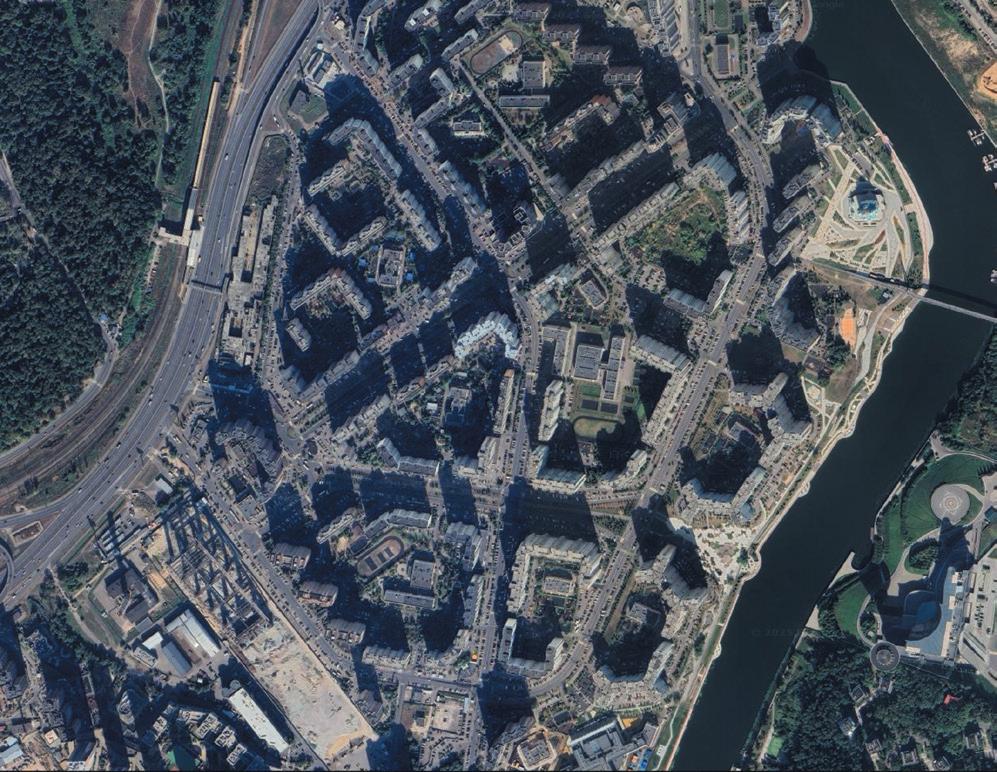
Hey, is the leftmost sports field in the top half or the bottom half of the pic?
bottom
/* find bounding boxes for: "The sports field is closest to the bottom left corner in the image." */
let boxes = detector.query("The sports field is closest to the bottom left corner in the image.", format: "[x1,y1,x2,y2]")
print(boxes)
[349,529,410,583]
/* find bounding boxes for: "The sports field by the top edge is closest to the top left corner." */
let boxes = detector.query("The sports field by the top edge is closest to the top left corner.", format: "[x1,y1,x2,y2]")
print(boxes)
[462,22,533,84]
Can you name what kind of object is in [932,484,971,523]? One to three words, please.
helipad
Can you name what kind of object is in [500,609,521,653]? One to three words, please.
building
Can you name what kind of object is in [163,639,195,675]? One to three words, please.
shed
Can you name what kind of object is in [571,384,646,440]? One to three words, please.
sports field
